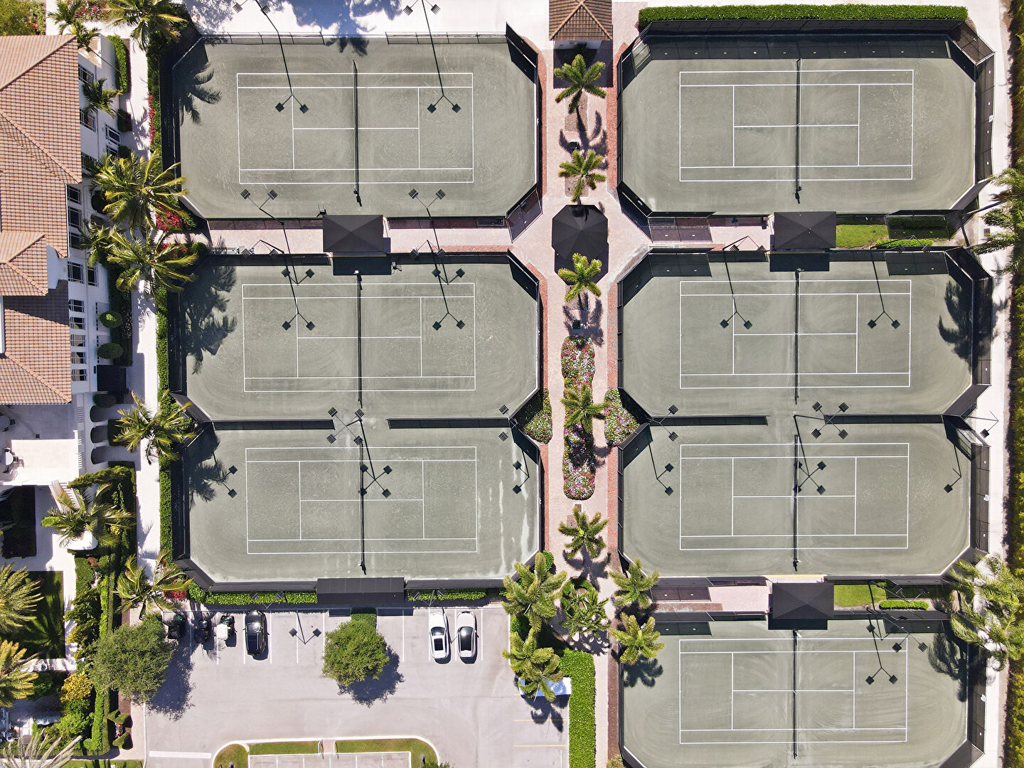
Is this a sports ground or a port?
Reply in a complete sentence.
The picture captures a sports ground.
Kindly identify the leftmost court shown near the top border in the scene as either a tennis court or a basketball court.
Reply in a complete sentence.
It looks like the leftmost court shown near the top border is a tennis court.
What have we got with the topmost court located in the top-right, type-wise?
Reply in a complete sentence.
What you see as the topmost court located in the top-right is a tennis court.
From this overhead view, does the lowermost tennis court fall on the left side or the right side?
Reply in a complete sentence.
You can find the lowermost tennis court on the right side of the picture.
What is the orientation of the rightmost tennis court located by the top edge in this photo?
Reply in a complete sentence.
Seen from above, the rightmost tennis court located by the top edge lies from left to right.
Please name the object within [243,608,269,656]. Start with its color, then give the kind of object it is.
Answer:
black car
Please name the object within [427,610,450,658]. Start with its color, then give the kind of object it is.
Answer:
white car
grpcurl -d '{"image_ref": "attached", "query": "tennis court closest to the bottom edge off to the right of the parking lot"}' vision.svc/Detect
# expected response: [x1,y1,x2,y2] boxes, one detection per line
[622,616,968,768]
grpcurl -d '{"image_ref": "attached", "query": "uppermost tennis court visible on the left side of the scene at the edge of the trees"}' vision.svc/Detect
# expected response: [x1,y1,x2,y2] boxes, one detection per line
[174,35,537,216]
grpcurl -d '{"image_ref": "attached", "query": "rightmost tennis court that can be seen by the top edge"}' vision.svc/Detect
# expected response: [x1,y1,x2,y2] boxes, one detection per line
[618,35,976,218]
